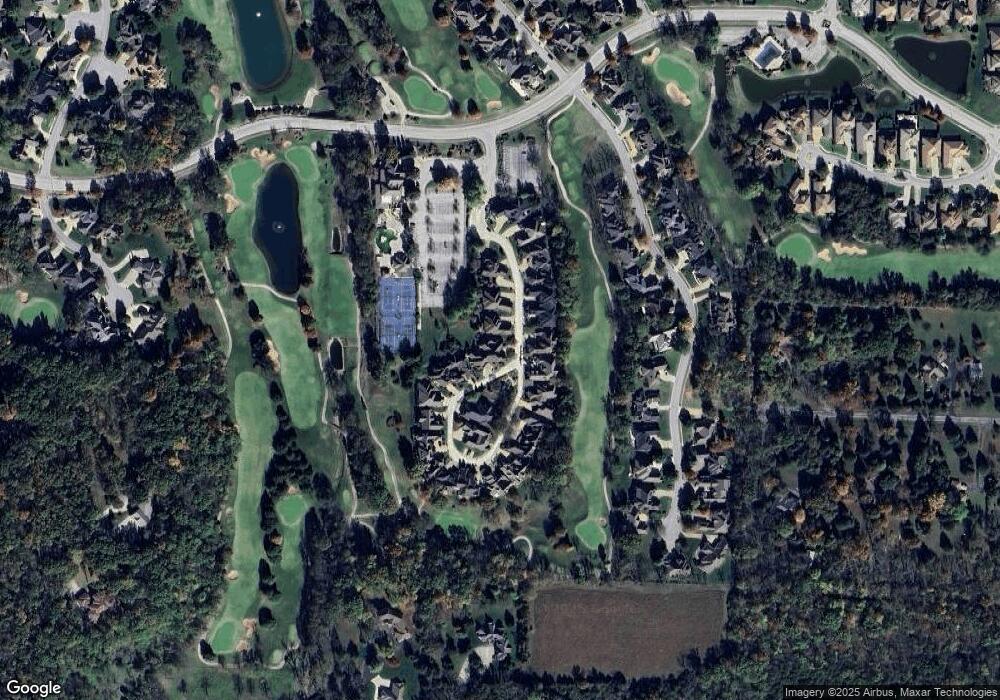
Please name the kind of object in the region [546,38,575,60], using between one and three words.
house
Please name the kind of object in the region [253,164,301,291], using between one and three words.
pond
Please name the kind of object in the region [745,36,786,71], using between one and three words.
swimming pool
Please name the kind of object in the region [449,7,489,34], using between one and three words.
house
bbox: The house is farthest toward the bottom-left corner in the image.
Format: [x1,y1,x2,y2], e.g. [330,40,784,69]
[76,590,115,618]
